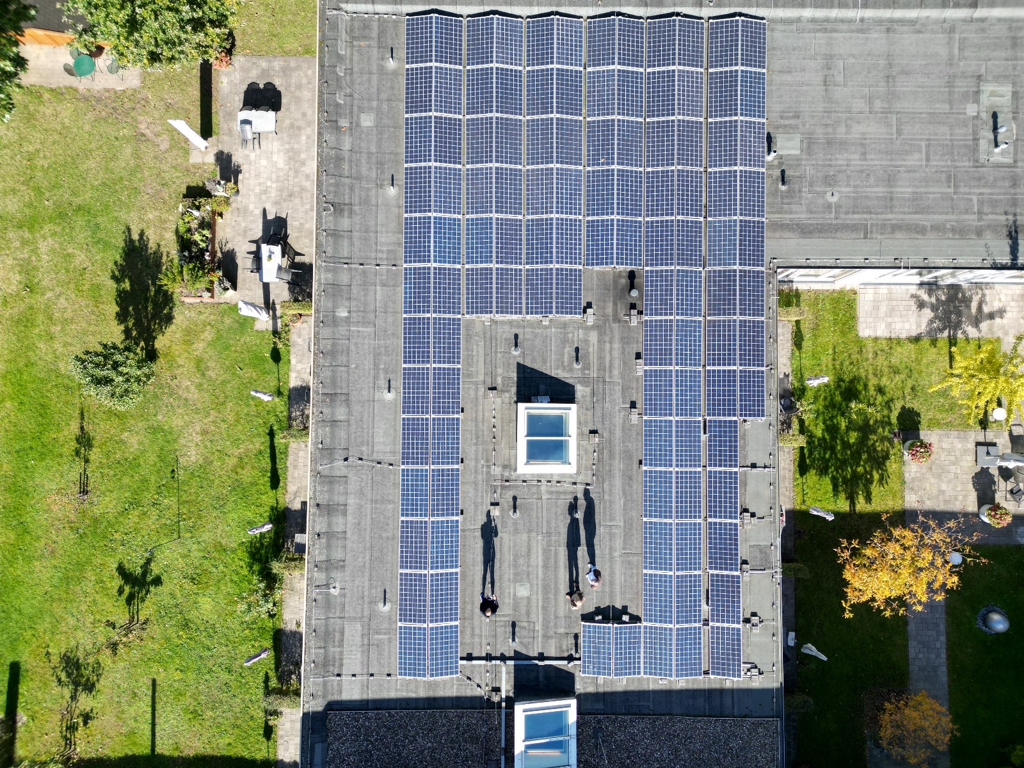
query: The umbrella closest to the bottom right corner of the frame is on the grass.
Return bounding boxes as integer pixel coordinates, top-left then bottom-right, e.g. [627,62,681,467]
[789,633,829,660]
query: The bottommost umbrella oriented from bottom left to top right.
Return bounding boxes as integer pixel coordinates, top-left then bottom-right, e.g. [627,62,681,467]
[244,643,277,665]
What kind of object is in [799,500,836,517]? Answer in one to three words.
umbrella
